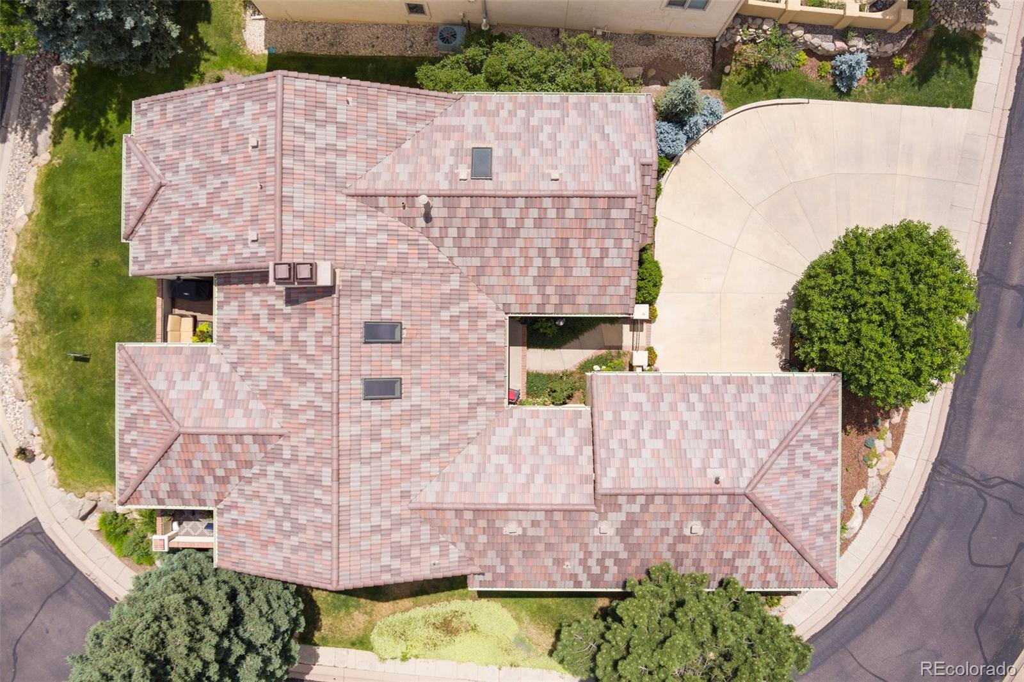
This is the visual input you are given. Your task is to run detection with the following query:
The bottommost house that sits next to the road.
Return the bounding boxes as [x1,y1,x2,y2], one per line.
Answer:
[111,67,845,594]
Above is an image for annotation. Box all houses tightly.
[111,67,845,594]
[252,0,742,39]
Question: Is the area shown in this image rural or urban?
urban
